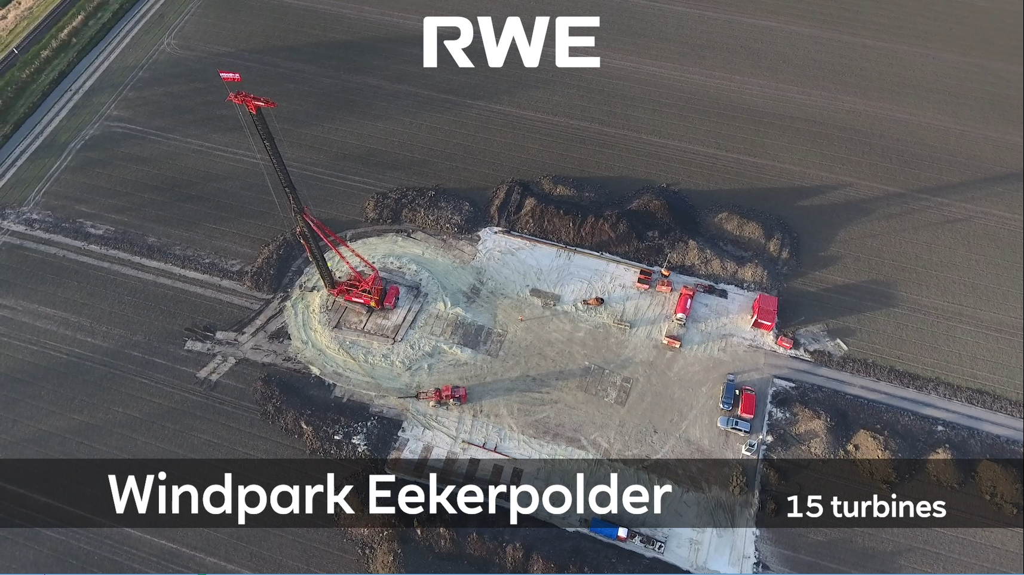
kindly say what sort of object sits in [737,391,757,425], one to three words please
vehicle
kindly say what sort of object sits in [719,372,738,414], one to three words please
car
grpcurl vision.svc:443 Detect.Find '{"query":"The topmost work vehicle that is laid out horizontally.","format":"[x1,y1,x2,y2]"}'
[397,387,469,409]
